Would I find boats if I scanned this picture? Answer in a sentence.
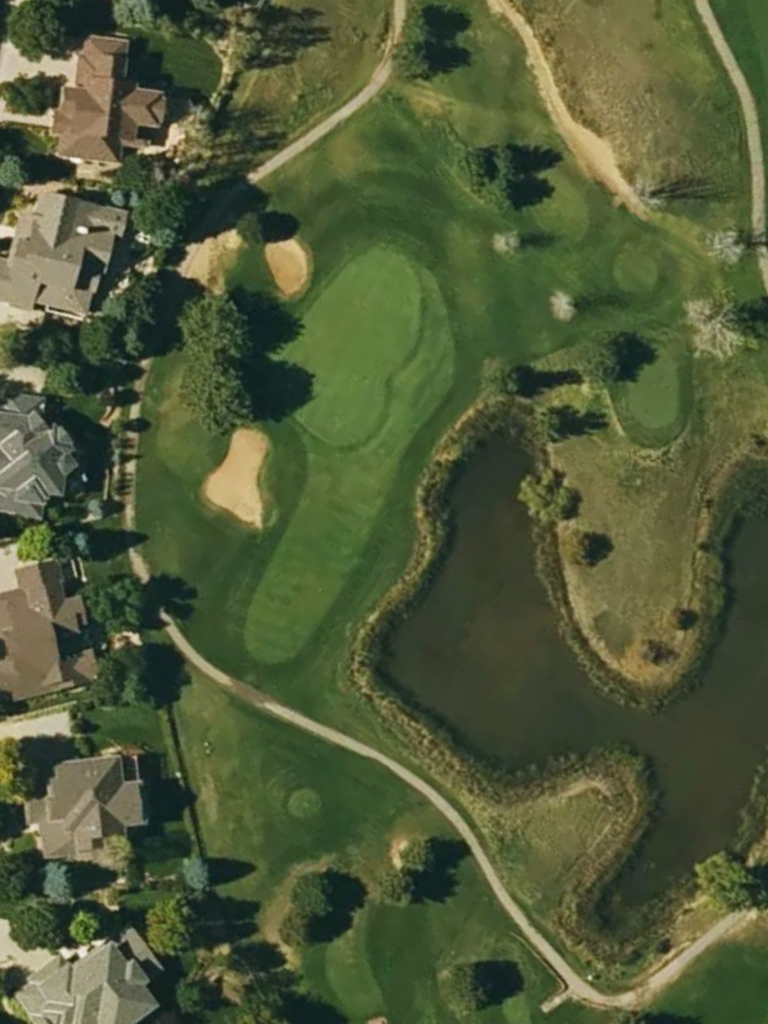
No, I find no boat anywhere in the image.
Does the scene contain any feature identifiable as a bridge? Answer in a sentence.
No, no bridge can be seen from above.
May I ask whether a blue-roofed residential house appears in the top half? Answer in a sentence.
No, I can find no blue-roofed residential house in the top half.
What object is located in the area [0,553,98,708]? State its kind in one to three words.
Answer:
house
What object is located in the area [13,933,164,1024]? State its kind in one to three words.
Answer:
house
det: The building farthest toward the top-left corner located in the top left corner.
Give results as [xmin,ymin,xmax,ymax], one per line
[52,33,166,167]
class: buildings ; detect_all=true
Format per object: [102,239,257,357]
[27,756,153,876]
[13,933,164,1024]
[0,185,130,314]
[0,389,83,526]
[52,33,166,167]
[0,553,98,708]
